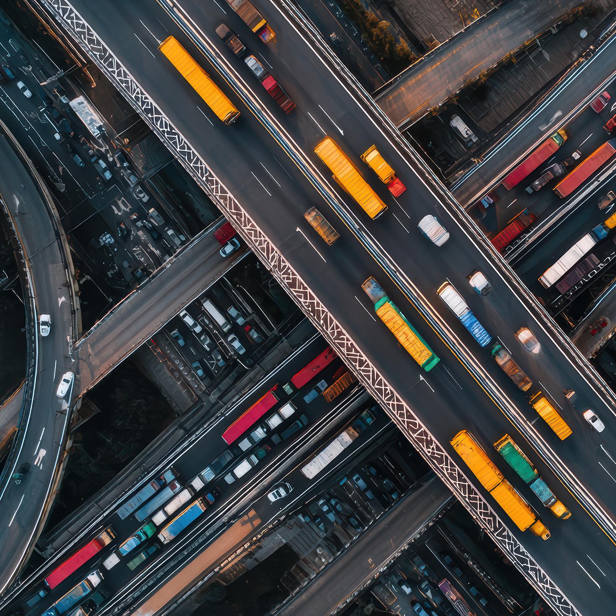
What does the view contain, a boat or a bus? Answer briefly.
bus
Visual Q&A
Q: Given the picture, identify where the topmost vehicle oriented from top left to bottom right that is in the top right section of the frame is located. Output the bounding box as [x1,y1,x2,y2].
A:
[449,113,475,144]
